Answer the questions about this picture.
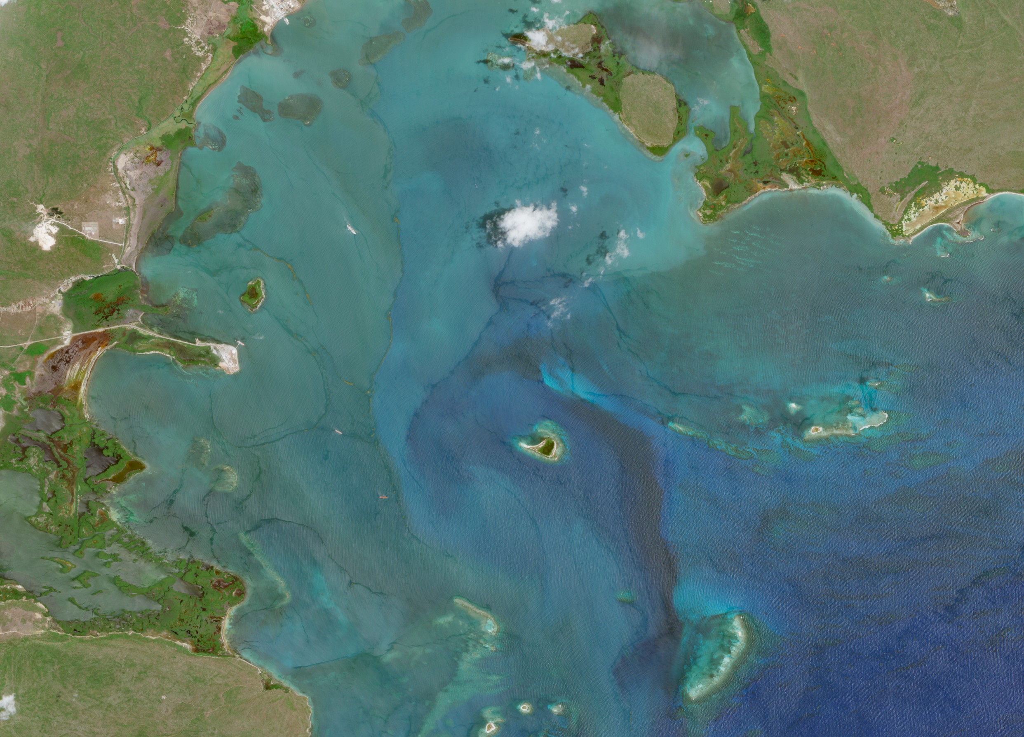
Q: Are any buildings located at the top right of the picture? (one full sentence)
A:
No, at the top right of the picture there is no building.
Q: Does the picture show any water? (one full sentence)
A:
Yes, some water is visible.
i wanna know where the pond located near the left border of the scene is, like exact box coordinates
[0,469,179,623]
